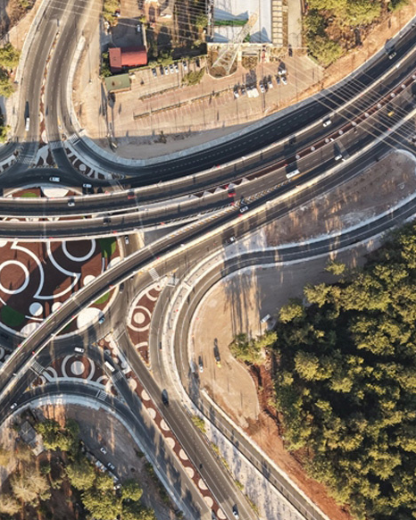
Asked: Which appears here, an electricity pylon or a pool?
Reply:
electricity pylon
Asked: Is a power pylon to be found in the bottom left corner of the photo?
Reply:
No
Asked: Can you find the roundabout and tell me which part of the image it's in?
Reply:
left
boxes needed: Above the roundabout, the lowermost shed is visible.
[104,73,130,93]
